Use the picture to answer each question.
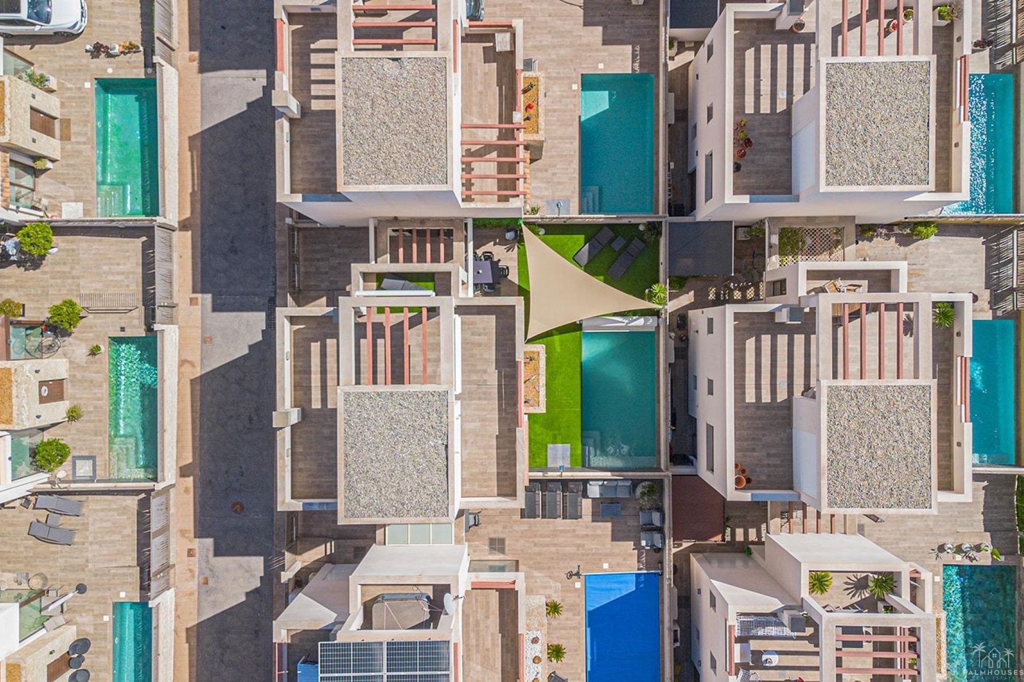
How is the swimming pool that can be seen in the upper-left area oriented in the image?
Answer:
up and down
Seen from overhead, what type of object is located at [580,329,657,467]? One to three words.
swimming pool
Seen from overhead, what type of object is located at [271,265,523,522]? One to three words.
house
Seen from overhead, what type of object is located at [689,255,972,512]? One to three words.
house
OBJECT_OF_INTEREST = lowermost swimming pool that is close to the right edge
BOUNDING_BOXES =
[941,563,1014,682]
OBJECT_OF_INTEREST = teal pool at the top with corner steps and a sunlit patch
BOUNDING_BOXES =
[579,71,656,215]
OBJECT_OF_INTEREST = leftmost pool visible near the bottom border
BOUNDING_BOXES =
[110,600,156,682]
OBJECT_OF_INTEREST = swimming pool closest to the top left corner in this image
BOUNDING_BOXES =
[93,76,156,216]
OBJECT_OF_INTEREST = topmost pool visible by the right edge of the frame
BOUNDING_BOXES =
[939,71,1015,215]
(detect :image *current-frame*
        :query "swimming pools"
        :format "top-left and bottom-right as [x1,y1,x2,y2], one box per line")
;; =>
[960,318,1015,462]
[941,563,1014,682]
[93,76,156,216]
[579,71,656,215]
[580,329,657,467]
[106,334,156,477]
[110,600,156,682]
[583,571,662,682]
[939,71,1015,215]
